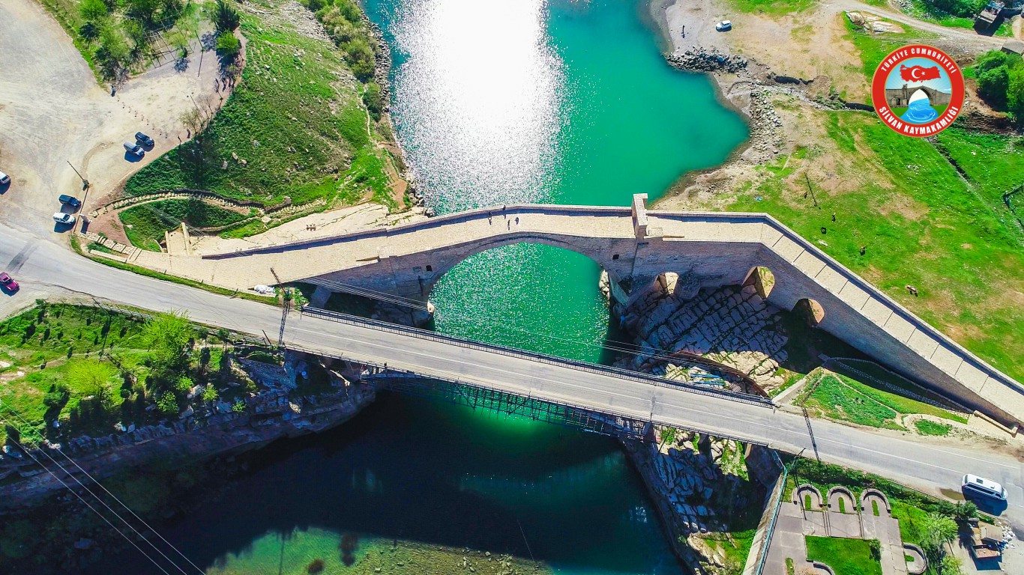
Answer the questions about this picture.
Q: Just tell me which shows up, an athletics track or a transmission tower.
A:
transmission tower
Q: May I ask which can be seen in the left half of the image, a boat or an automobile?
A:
automobile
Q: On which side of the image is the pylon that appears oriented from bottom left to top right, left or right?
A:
right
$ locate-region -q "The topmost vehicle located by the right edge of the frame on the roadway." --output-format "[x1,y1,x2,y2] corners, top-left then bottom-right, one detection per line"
[955,474,1009,504]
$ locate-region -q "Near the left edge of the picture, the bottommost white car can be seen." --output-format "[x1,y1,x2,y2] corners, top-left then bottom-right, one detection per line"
[49,210,78,227]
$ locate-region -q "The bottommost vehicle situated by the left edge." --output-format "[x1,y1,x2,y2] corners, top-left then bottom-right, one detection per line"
[0,274,22,294]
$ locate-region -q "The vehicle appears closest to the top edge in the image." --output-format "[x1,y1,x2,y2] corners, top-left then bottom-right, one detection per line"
[715,20,733,32]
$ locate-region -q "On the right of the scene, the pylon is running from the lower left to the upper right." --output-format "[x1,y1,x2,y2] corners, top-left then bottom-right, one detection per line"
[797,377,828,411]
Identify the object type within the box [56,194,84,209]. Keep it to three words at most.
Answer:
car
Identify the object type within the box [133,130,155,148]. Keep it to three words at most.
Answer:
car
